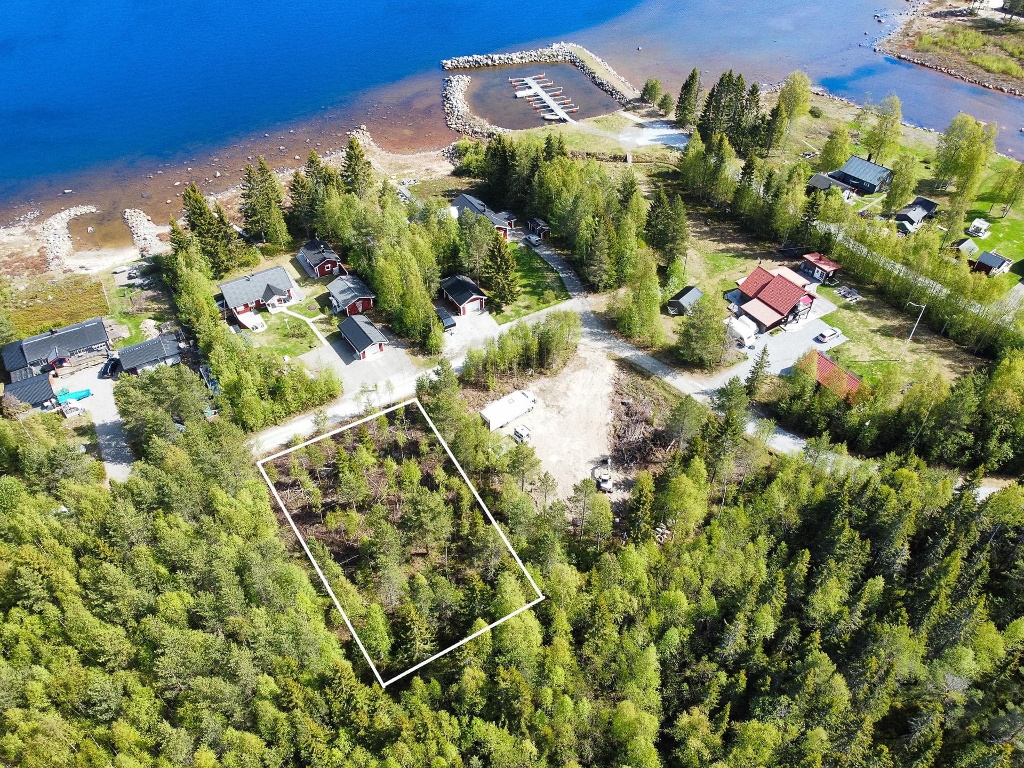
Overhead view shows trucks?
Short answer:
Yes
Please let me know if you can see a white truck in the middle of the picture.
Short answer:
Yes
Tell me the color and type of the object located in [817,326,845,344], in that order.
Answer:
white car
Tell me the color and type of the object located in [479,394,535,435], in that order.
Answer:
white truck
